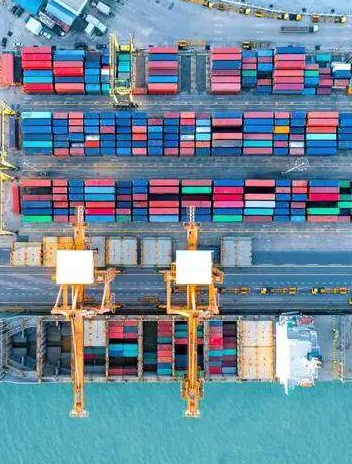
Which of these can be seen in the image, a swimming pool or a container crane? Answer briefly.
container crane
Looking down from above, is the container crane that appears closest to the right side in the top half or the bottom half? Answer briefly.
bottom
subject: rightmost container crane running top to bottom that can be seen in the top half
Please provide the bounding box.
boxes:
[110,32,140,107]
